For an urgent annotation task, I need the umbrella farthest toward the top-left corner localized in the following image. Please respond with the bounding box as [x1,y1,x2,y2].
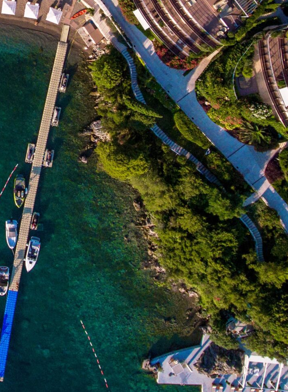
[0,0,17,14]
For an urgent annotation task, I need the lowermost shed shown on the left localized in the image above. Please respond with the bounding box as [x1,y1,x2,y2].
[76,23,103,48]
